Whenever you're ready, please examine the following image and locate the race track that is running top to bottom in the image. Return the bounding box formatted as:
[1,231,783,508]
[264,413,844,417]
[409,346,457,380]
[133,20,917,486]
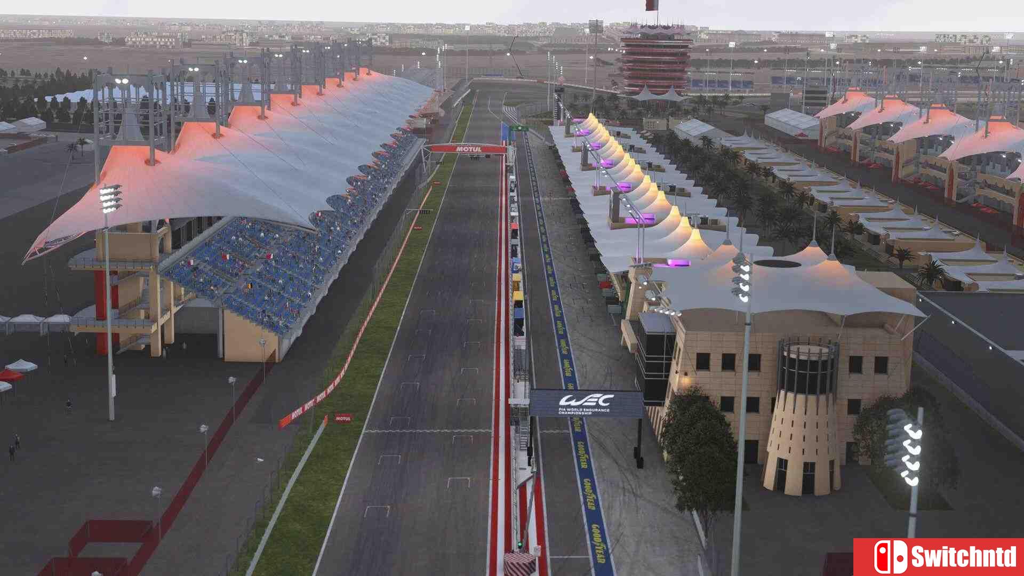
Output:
[314,90,506,576]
